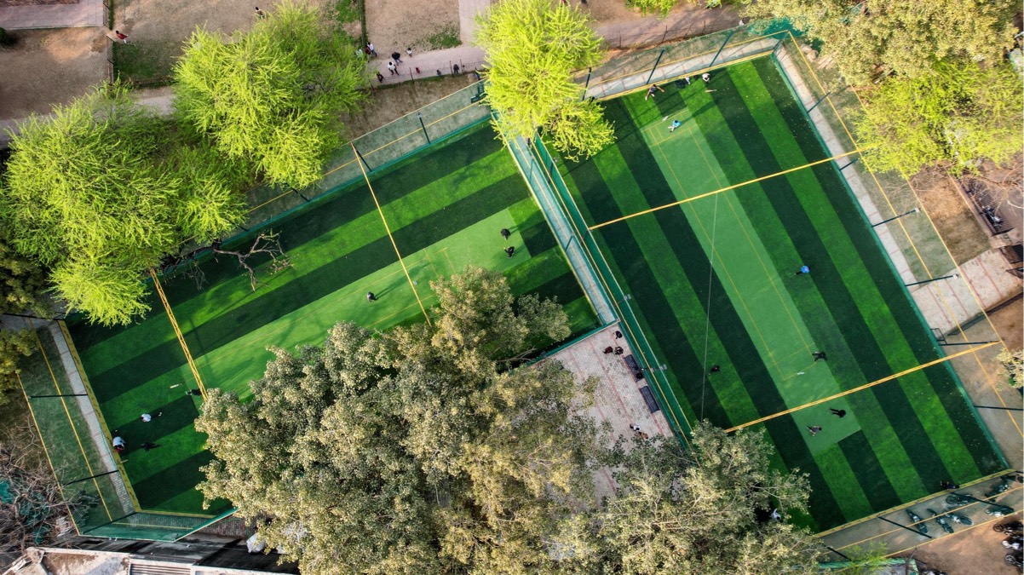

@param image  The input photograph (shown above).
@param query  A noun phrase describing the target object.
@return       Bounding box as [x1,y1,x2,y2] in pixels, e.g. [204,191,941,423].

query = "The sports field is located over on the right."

[538,58,1004,547]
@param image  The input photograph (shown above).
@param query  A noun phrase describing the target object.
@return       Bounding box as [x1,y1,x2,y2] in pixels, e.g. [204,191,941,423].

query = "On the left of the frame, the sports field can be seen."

[63,117,600,516]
